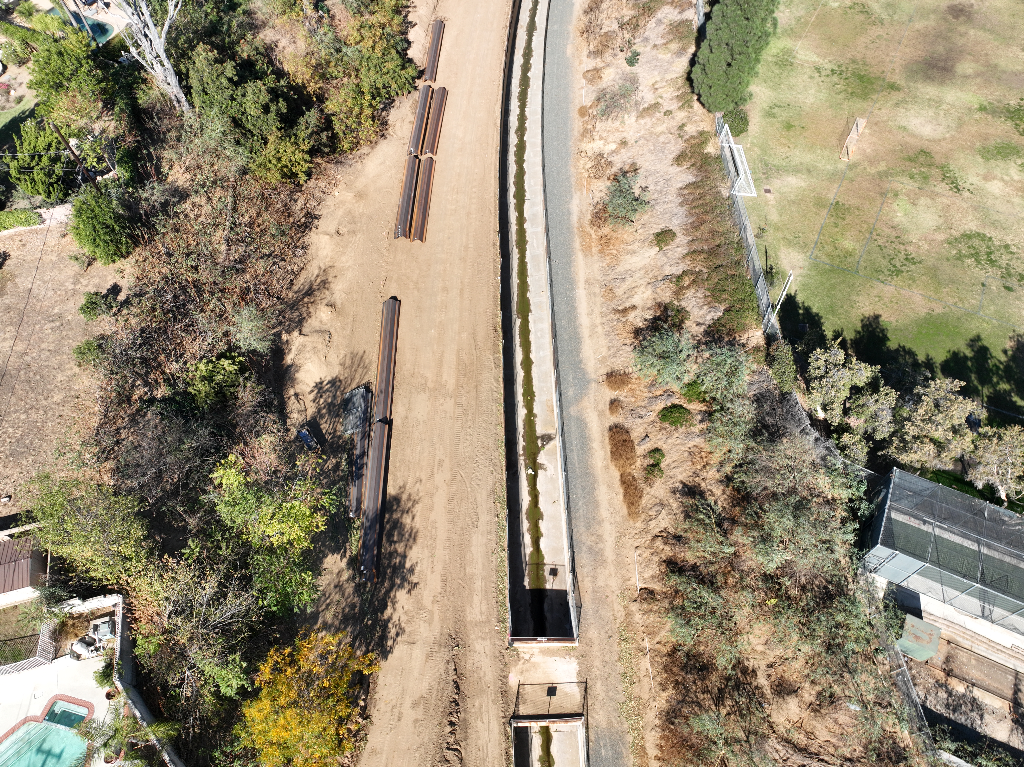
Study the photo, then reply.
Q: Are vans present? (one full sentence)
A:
No, the photo shows no van.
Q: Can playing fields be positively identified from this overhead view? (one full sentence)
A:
Yes, this view includes a playing field.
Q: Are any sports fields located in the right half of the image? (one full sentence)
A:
Yes, there is a sports field in the right half of the image.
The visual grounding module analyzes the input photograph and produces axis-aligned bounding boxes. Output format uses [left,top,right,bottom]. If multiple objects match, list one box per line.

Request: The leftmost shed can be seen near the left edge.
[0,532,49,598]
